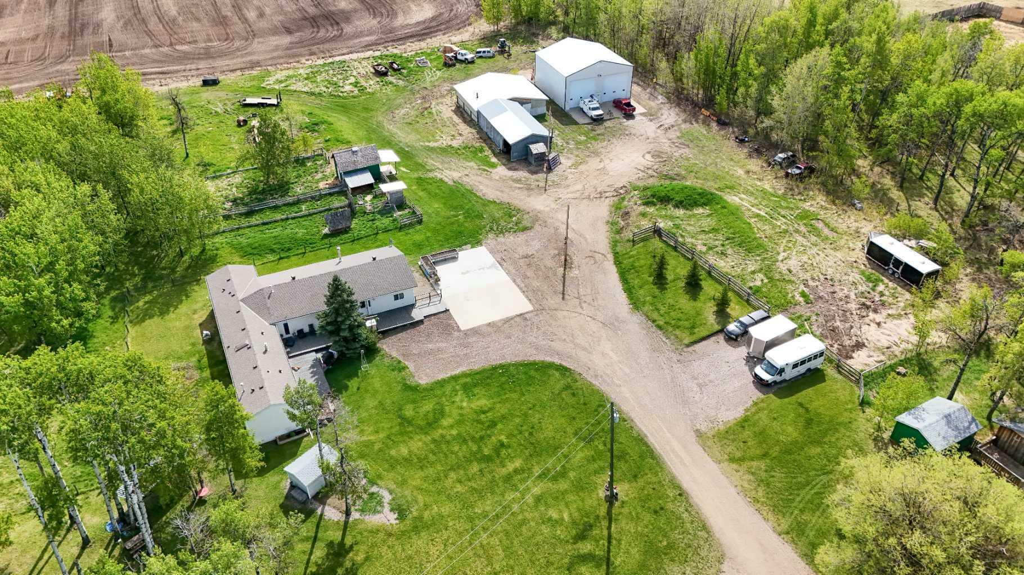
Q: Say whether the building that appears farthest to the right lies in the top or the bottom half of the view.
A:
bottom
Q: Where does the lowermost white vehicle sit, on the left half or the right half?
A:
right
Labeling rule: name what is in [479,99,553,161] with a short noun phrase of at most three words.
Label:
shed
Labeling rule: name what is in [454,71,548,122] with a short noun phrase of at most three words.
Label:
barn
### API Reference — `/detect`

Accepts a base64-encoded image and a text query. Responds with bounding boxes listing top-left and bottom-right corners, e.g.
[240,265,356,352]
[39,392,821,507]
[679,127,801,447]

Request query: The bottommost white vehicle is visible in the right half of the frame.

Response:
[750,335,825,386]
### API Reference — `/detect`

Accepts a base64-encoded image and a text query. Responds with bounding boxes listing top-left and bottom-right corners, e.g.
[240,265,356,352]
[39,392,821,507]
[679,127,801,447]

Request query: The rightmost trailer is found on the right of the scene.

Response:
[861,234,941,288]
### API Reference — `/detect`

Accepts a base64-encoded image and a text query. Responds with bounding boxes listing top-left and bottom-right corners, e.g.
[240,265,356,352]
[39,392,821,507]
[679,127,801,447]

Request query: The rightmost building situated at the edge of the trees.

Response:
[973,406,1024,481]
